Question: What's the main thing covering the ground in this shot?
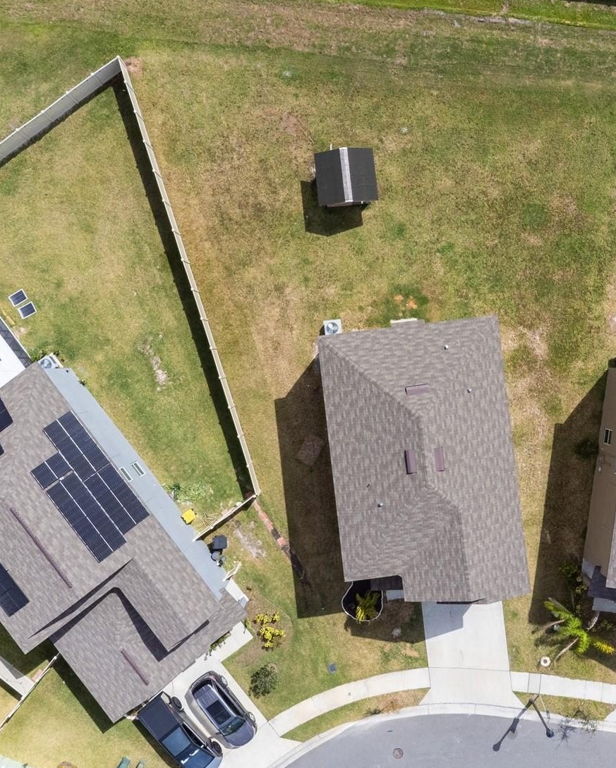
grass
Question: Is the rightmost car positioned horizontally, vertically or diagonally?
diagonally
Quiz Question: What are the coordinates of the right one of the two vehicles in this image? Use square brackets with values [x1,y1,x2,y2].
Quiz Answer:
[191,672,258,748]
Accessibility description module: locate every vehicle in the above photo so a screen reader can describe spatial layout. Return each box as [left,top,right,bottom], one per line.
[138,689,225,768]
[191,672,258,748]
